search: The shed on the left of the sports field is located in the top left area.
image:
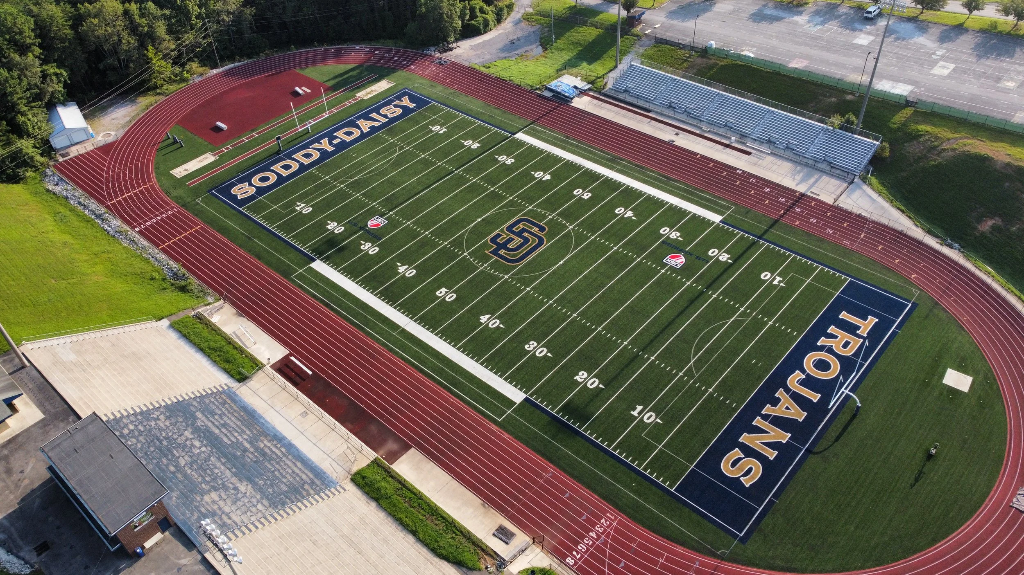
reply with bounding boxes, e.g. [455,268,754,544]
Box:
[40,102,92,150]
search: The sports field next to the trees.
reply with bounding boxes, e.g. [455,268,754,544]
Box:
[153,63,1009,574]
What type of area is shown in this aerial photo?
sports ground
